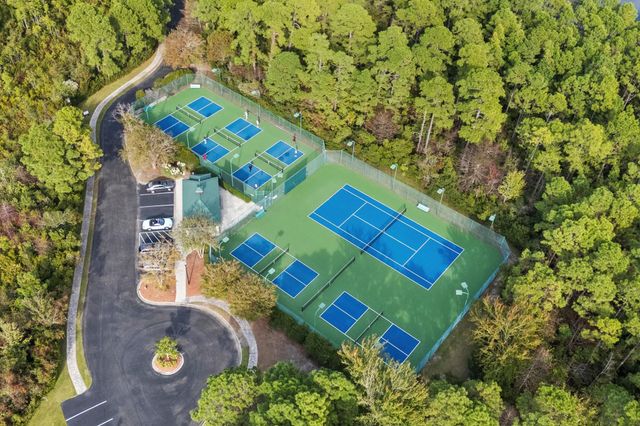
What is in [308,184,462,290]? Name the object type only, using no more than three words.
tennis court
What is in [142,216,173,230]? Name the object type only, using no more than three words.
vehicle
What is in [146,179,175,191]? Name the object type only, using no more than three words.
vehicle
